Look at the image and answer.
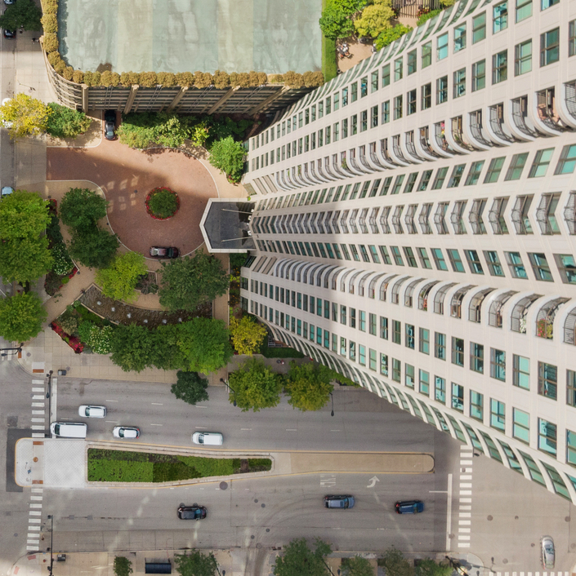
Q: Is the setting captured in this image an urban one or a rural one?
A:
urban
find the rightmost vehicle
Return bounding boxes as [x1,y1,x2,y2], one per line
[537,536,553,567]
